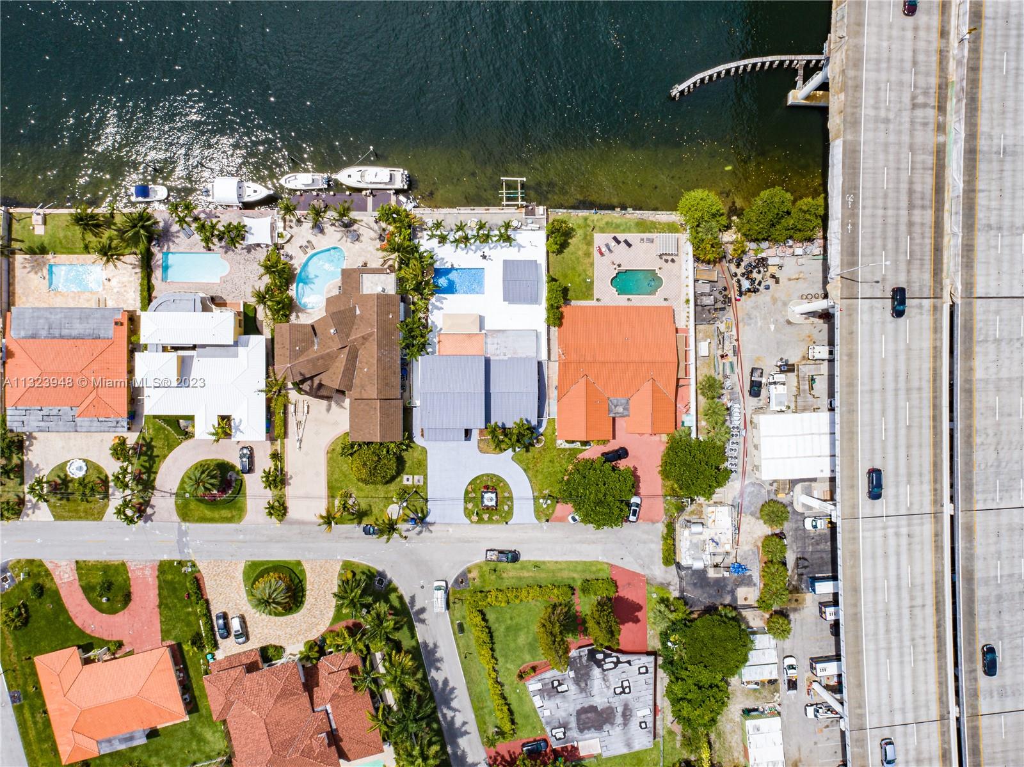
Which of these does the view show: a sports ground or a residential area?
residential area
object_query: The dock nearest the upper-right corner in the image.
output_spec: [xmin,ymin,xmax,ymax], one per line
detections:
[783,59,832,110]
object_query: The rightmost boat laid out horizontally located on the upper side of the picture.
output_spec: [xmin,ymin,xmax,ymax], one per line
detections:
[334,168,413,189]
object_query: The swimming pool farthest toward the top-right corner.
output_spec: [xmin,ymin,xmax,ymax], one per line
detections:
[608,267,666,297]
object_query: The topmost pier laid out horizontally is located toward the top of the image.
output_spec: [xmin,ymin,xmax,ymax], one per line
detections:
[667,54,826,96]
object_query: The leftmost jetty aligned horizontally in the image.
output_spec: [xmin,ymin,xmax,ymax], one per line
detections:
[289,192,402,211]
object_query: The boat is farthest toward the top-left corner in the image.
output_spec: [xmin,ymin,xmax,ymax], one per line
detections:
[125,184,168,201]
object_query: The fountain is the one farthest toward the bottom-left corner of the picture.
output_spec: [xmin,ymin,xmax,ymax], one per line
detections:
[69,459,88,477]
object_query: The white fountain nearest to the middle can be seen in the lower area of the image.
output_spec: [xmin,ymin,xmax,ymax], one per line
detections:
[481,490,496,506]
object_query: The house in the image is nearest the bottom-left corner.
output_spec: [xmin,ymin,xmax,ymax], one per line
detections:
[34,643,190,766]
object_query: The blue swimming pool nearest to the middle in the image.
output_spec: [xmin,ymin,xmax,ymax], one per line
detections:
[433,266,486,296]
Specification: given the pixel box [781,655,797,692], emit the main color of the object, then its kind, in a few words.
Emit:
white vehicle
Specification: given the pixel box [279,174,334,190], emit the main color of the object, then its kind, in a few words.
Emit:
white boat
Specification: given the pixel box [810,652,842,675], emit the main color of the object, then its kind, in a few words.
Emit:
white bus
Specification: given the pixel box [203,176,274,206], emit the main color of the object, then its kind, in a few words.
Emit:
white boat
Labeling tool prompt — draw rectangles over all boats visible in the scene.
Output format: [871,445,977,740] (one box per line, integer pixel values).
[279,174,334,190]
[203,176,274,206]
[334,168,413,189]
[125,184,168,201]
[401,193,416,209]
